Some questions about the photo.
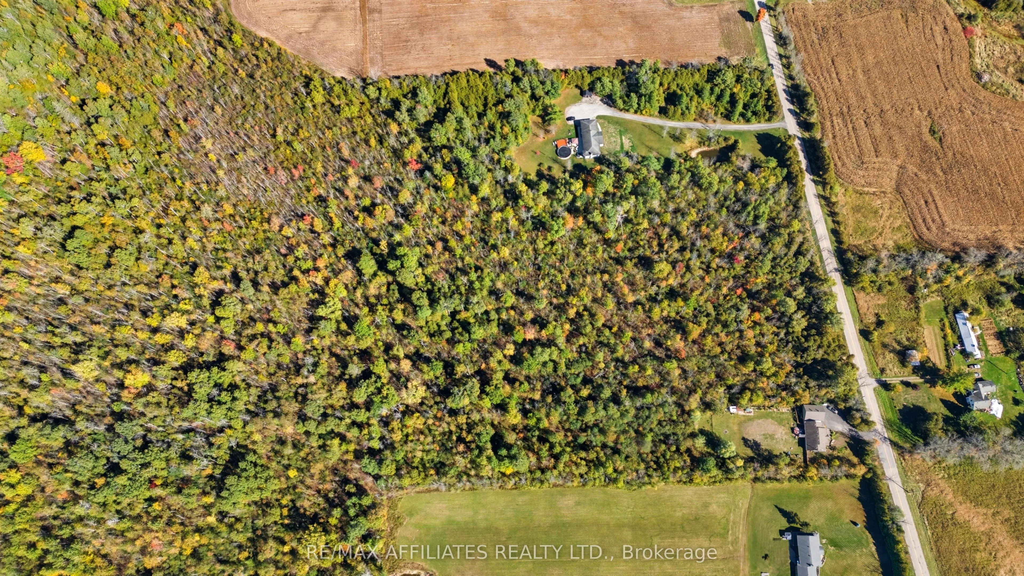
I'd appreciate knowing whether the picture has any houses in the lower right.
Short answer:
Yes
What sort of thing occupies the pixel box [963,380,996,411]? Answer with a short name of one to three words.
house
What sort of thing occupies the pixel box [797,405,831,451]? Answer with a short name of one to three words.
house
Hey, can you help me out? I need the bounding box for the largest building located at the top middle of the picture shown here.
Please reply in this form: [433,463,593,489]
[577,119,604,159]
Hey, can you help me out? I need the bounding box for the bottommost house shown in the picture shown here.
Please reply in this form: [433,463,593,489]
[789,532,825,576]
